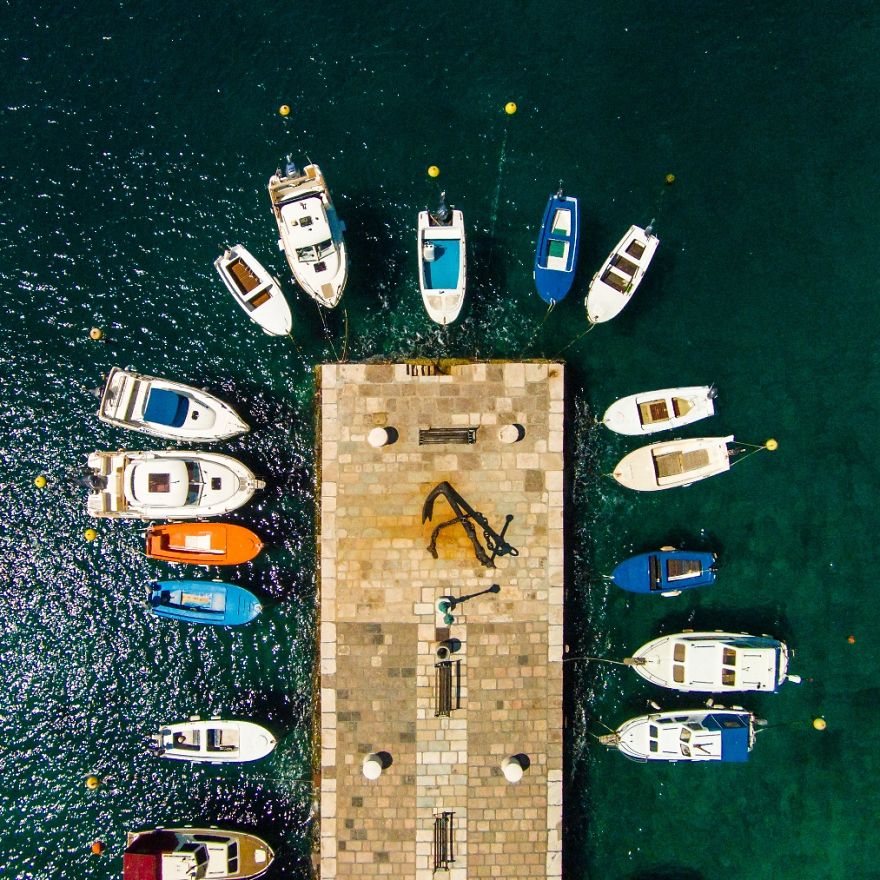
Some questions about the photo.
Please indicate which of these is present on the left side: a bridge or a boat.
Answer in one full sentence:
The one visible on the left side is a boat.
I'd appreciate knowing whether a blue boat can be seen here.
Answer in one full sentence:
Yes, this view includes a blue boat.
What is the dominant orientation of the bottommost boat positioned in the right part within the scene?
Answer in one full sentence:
From this overhead view, the bottommost boat positioned in the right part appears to run from side to side.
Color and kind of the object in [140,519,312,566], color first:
orange boat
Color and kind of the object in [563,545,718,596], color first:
blue boat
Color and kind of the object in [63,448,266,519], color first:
white boat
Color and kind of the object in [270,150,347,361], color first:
white boat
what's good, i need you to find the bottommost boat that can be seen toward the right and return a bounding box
[565,700,814,765]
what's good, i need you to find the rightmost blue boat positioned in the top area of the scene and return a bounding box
[528,183,580,361]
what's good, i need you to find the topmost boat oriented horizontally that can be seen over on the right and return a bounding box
[563,384,730,435]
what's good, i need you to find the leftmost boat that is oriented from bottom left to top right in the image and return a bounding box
[558,217,663,361]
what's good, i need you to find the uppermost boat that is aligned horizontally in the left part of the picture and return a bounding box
[88,368,250,442]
